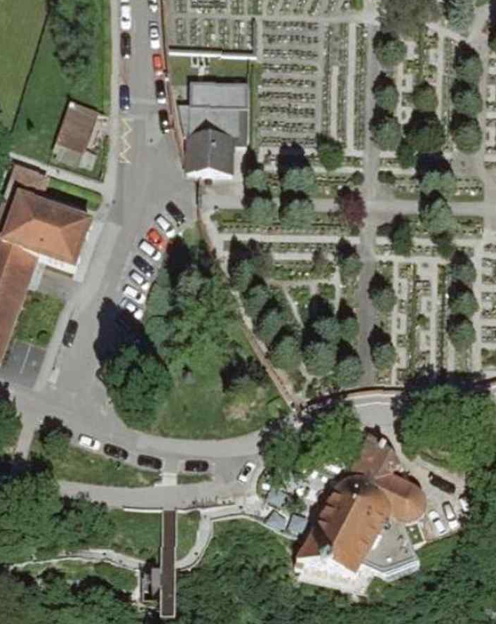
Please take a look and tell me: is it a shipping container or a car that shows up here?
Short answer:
car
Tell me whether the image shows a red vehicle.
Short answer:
Yes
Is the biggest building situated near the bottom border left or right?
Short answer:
right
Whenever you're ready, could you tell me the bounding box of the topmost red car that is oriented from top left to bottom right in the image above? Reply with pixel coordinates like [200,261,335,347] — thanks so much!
[147,229,165,248]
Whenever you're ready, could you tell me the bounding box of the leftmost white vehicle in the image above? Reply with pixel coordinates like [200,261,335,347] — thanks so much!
[78,436,99,449]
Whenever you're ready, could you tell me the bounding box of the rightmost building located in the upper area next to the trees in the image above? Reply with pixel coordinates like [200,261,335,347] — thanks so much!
[179,81,249,196]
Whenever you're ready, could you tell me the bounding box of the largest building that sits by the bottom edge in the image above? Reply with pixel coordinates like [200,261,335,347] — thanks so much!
[296,434,425,596]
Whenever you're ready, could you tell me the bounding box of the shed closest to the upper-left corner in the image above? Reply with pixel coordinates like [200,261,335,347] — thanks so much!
[57,101,97,158]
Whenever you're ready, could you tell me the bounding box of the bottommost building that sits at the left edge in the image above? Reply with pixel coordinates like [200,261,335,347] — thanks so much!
[0,162,92,363]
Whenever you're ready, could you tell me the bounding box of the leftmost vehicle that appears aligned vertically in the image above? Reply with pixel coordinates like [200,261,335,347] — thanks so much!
[64,320,77,345]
